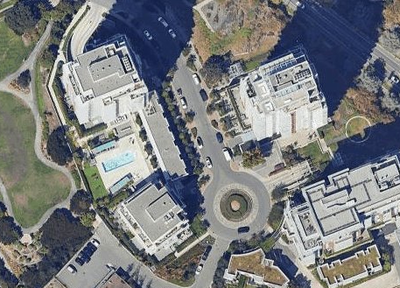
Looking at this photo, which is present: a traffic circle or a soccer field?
traffic circle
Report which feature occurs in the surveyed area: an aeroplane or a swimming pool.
swimming pool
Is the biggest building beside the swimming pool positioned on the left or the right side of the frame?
left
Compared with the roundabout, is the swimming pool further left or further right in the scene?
on the left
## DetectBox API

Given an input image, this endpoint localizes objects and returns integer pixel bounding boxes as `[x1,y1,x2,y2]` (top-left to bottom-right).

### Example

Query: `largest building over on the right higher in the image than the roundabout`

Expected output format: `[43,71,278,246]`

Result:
[237,53,328,141]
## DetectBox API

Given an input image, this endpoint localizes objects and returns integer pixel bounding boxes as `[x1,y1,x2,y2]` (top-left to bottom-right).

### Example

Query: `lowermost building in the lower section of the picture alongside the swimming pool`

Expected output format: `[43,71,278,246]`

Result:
[118,184,193,264]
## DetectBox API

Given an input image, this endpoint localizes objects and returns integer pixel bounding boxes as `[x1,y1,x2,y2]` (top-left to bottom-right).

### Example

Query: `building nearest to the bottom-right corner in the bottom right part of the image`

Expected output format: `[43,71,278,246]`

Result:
[317,245,381,288]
